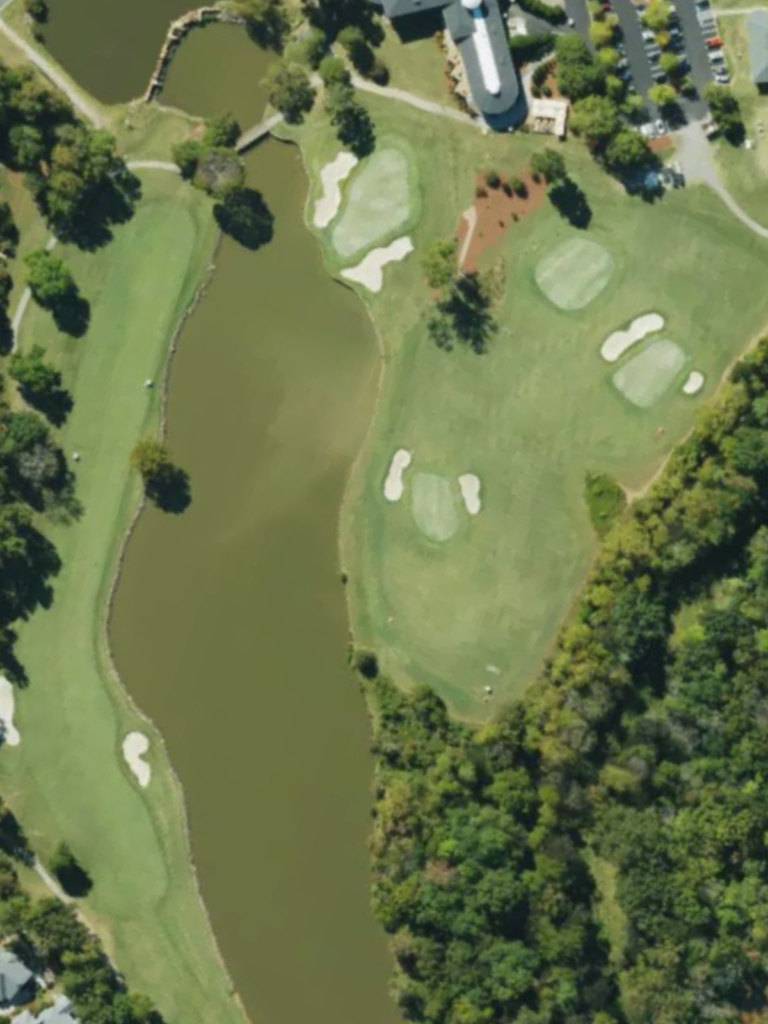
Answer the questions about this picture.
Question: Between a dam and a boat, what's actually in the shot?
dam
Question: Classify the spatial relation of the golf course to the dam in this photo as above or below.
below it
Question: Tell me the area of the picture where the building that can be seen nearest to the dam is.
top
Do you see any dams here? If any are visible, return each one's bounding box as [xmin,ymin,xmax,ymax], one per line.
[145,5,221,103]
